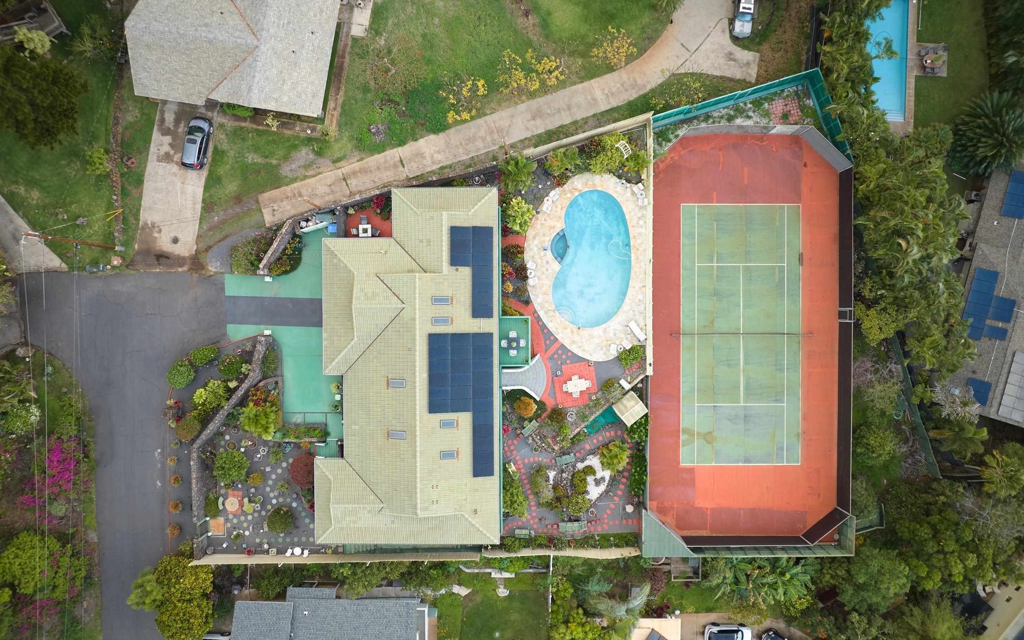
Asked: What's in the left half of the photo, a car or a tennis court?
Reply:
car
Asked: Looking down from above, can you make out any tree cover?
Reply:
Yes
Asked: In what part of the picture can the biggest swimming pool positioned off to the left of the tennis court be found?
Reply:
center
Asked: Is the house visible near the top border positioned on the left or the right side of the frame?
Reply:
left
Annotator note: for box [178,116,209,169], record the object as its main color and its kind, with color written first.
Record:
gray car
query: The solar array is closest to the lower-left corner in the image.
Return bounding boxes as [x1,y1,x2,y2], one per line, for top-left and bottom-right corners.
[429,332,493,478]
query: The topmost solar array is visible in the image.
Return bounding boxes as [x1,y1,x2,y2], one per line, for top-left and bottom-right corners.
[1001,170,1024,219]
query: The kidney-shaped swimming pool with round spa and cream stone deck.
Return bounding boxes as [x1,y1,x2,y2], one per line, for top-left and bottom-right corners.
[524,174,646,361]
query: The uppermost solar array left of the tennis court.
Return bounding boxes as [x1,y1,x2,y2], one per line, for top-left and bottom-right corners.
[451,226,493,318]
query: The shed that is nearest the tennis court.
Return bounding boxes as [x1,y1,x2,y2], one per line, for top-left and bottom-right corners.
[643,511,691,556]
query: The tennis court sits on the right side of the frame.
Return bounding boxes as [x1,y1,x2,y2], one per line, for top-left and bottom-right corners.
[646,132,839,544]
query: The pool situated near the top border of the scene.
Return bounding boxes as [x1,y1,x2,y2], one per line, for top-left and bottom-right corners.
[855,0,917,131]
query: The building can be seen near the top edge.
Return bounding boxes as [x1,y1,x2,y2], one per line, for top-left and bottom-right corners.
[122,0,341,118]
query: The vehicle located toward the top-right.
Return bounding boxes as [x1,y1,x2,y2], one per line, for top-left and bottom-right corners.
[732,0,761,33]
